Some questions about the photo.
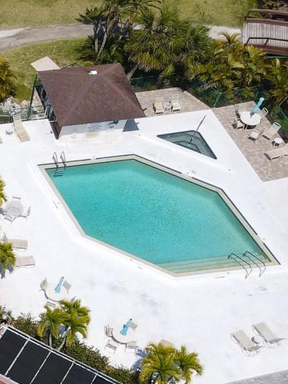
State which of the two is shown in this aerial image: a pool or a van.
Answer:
pool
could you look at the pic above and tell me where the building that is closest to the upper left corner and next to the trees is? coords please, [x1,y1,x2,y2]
[34,65,142,146]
